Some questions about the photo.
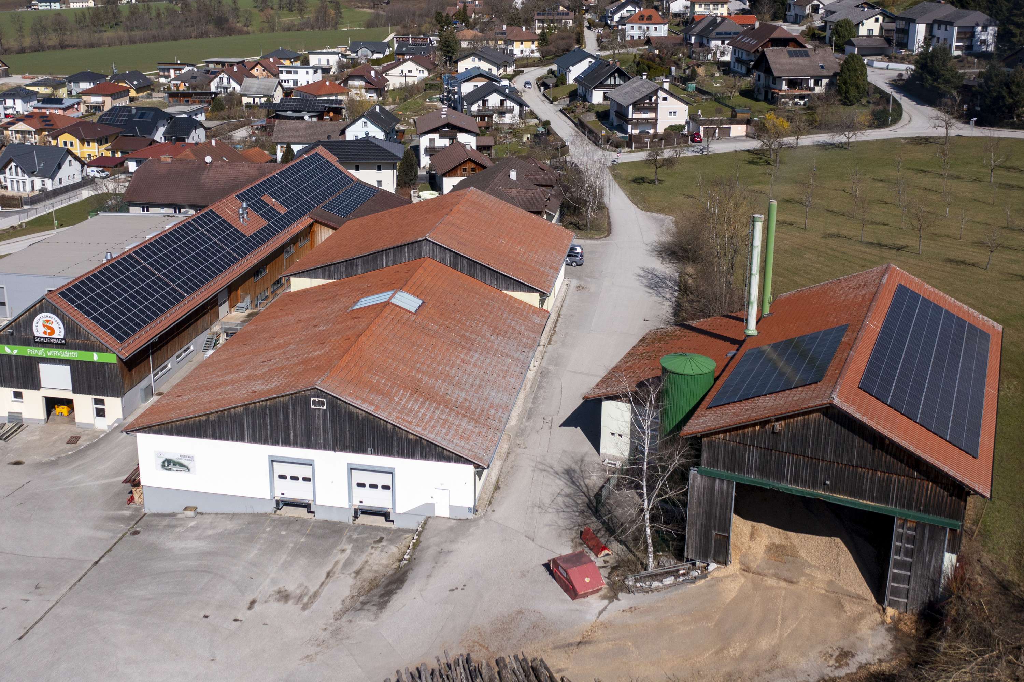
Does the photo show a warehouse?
Yes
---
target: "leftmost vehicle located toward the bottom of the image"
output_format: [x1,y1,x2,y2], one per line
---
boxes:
[62,403,76,421]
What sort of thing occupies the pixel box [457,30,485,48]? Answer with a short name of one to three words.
house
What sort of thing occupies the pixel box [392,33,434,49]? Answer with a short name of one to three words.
house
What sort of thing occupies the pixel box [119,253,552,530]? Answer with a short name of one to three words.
warehouse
